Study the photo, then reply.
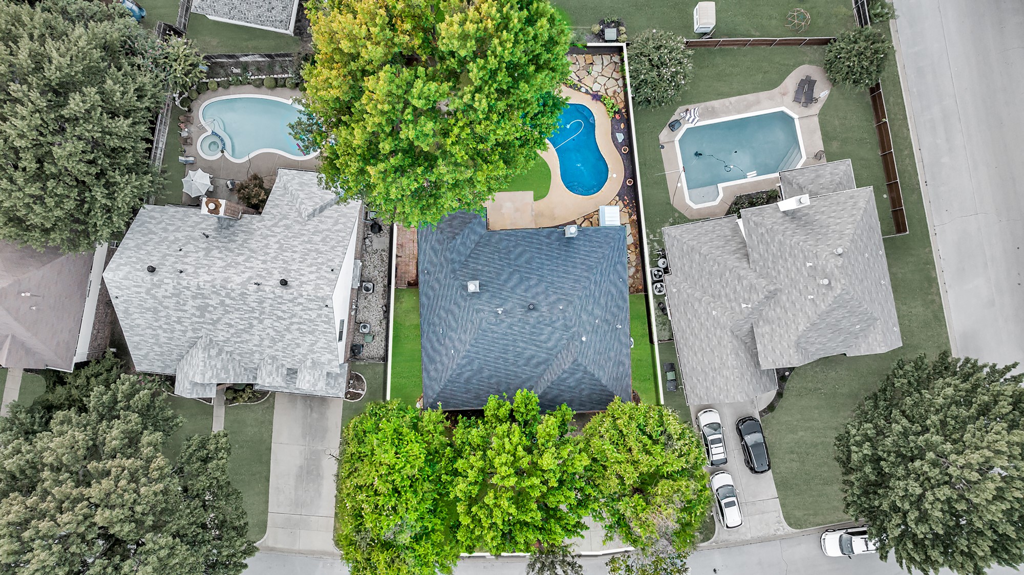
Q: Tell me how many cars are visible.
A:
4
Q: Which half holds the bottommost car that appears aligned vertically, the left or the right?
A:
right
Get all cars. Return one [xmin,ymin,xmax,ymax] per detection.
[819,525,885,558]
[695,409,727,467]
[735,415,770,475]
[708,470,742,529]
